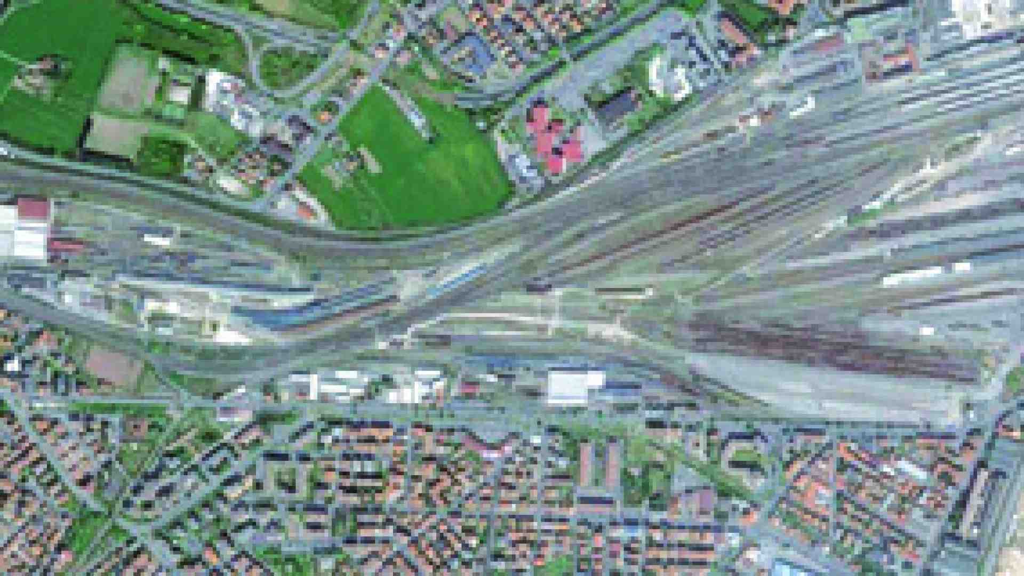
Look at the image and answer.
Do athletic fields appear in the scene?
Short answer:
Yes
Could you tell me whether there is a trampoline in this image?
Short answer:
No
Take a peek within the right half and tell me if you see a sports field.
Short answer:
No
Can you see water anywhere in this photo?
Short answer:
No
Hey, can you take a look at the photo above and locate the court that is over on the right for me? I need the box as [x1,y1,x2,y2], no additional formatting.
[849,17,872,41]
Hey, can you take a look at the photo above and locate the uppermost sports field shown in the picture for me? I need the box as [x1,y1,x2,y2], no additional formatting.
[97,51,149,111]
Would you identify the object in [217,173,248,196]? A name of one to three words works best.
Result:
barn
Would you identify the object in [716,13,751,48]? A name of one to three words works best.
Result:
building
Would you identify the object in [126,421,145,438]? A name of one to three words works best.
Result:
house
